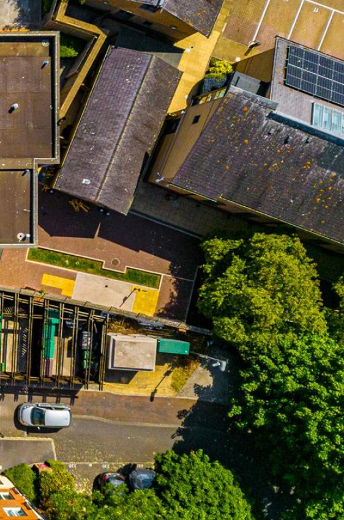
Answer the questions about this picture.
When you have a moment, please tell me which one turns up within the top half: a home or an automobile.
home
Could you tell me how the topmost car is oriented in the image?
from side to side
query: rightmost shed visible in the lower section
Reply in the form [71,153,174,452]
[100,334,157,372]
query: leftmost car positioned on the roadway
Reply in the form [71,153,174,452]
[15,402,73,432]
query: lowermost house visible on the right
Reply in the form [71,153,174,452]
[146,34,344,255]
